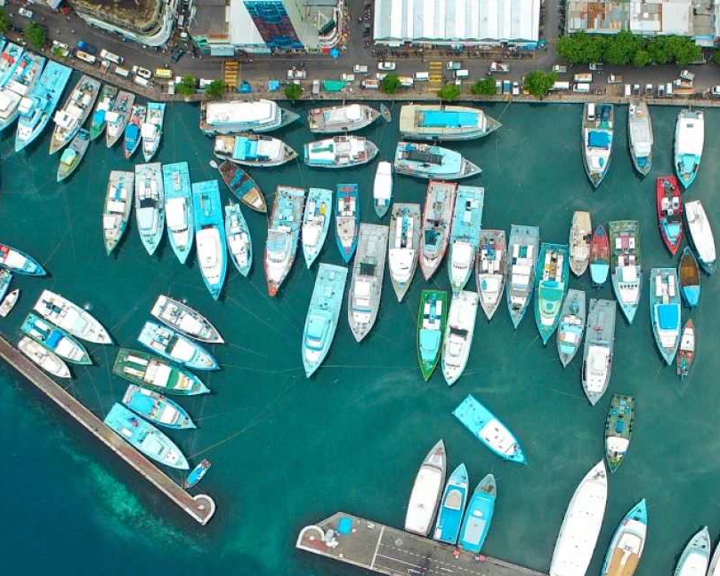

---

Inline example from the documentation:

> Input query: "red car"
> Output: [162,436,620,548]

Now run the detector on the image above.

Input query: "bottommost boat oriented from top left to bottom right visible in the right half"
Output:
[453,395,526,465]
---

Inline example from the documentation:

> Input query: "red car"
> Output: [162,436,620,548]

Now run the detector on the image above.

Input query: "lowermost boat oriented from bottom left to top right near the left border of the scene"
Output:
[0,290,19,318]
